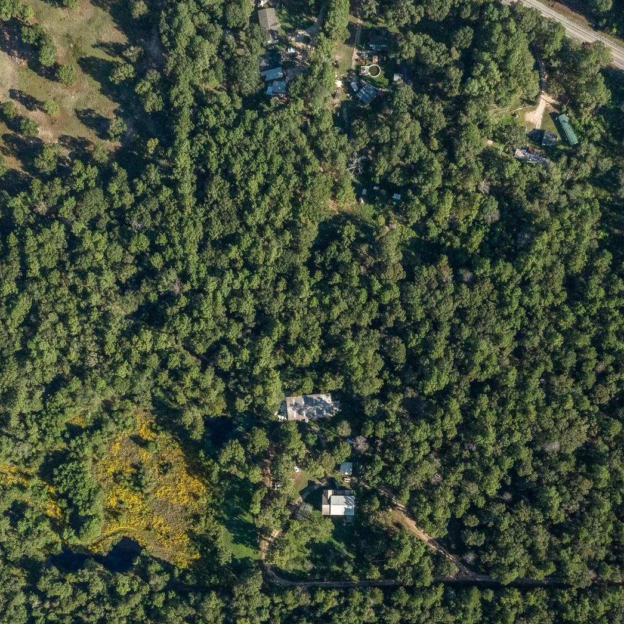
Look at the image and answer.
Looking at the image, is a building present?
Yes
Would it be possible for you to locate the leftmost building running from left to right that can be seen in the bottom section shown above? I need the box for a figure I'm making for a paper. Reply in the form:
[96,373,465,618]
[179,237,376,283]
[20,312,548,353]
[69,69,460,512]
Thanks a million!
[286,393,338,420]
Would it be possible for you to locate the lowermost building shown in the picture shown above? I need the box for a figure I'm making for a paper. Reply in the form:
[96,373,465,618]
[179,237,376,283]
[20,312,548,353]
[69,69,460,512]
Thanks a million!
[321,489,354,515]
